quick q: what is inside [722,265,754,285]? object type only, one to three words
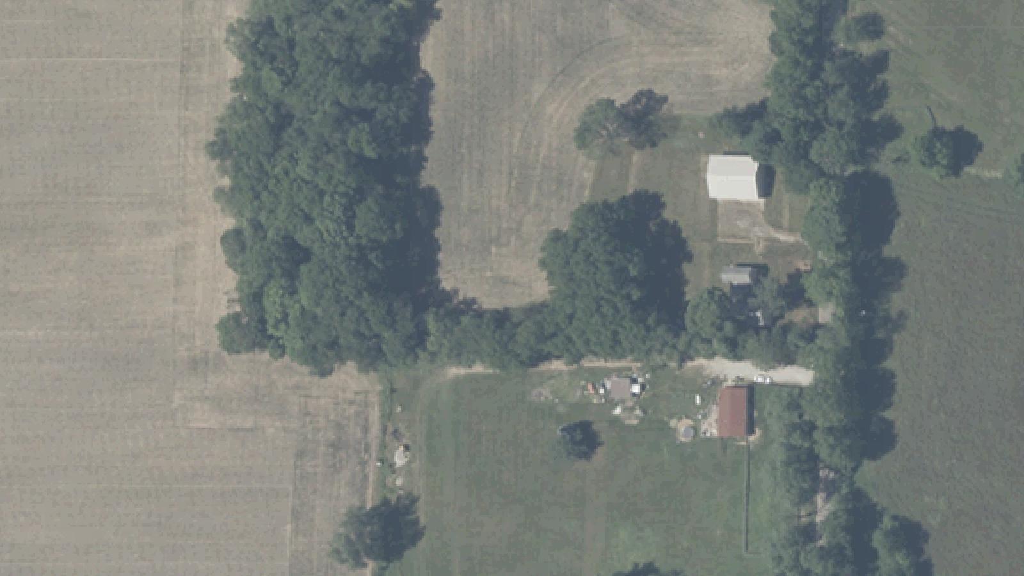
shed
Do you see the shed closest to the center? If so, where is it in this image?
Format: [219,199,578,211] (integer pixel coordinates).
[611,378,631,397]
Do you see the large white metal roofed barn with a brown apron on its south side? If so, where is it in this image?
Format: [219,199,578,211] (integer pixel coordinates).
[708,153,761,201]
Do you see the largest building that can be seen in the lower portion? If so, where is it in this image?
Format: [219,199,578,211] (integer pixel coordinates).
[718,386,749,438]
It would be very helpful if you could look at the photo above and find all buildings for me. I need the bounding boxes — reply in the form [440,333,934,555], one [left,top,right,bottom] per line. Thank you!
[722,265,754,285]
[718,386,749,438]
[611,378,631,397]
[708,153,761,201]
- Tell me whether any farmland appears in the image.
Yes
